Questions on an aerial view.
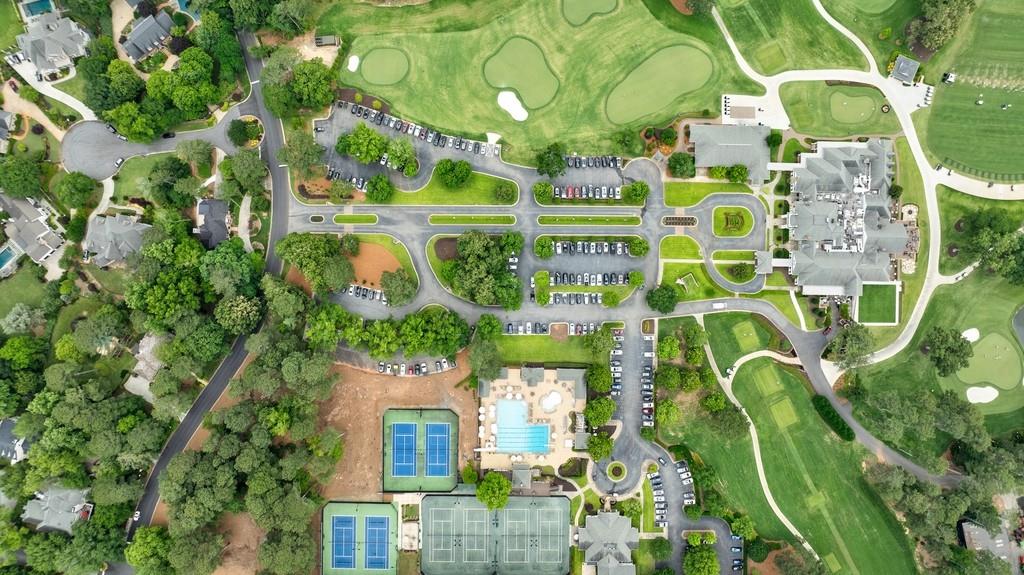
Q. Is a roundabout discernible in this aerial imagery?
Yes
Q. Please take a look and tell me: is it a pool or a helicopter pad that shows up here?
pool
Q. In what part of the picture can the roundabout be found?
bottom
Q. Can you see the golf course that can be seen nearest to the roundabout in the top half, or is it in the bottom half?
bottom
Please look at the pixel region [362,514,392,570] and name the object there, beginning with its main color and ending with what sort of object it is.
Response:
blue tennis court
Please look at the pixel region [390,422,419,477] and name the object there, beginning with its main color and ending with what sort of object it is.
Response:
blue tennis court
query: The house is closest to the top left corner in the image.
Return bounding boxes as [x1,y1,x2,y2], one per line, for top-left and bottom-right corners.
[23,11,87,76]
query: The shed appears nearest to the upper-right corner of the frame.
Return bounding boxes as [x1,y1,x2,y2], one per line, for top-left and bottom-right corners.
[887,55,919,85]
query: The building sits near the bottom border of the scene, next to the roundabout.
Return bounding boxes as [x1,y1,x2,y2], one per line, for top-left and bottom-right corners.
[578,509,638,575]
